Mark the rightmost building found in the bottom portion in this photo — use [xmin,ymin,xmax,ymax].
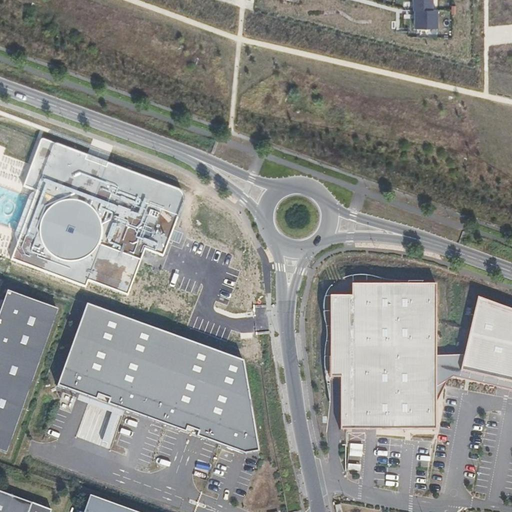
[453,295,512,390]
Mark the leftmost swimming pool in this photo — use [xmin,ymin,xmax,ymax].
[0,186,29,232]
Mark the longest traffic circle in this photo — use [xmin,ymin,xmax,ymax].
[210,158,384,268]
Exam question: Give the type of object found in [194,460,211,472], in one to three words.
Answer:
vehicle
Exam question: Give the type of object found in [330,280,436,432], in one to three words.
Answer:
building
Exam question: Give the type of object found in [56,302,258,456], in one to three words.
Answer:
building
